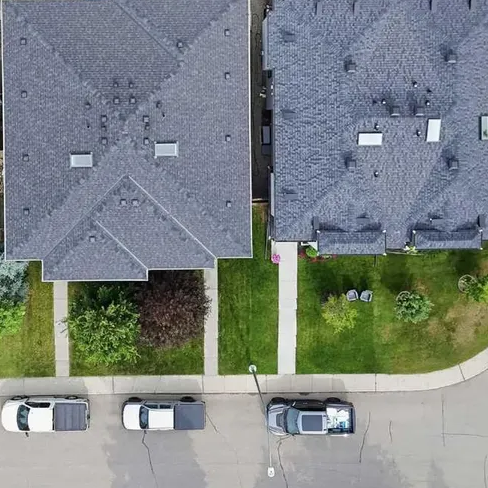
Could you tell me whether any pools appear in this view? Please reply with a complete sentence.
No, this view has no pool in it.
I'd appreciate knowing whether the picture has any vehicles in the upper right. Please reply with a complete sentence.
No, no vehicle is visible in the upper right.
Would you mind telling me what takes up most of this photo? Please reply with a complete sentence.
The largest share of the image is taken up by buildings.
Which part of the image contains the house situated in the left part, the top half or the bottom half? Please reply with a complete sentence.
You can find the house situated in the left part in the top half.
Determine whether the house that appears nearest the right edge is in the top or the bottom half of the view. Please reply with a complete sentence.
You can find the house that appears nearest the right edge in the top half.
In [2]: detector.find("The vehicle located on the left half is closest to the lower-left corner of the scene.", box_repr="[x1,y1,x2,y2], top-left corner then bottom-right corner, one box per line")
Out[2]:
[1,397,91,440]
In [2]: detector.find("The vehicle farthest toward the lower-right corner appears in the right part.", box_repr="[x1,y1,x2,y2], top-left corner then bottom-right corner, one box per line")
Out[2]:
[270,398,358,441]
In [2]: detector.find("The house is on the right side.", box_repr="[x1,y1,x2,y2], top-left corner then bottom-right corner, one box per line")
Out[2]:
[261,0,488,255]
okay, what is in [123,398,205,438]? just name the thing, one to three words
truck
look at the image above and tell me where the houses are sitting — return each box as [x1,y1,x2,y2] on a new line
[261,0,488,255]
[0,0,253,282]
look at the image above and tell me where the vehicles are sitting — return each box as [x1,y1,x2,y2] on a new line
[270,398,358,441]
[123,398,205,438]
[1,397,91,440]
